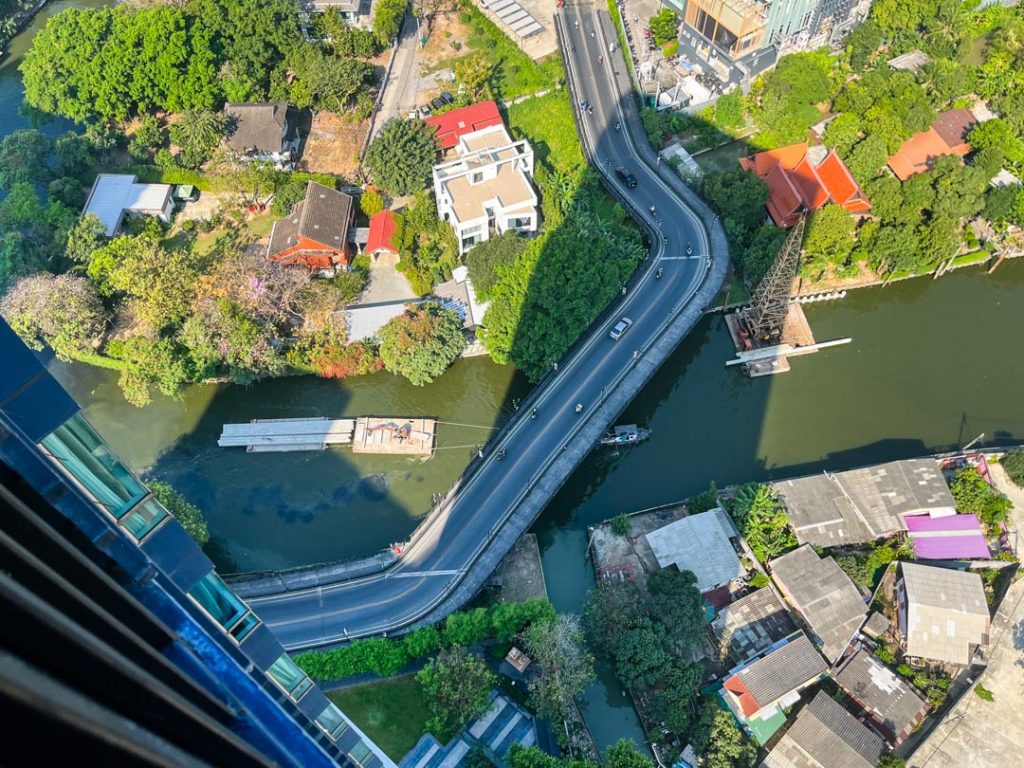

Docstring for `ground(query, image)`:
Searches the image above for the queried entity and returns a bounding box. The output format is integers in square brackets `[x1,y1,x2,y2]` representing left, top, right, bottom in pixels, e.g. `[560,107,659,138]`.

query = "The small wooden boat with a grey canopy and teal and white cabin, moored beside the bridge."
[600,422,650,443]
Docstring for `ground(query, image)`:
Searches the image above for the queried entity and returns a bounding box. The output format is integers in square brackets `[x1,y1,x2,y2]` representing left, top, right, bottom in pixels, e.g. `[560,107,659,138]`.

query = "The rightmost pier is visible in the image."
[743,356,789,380]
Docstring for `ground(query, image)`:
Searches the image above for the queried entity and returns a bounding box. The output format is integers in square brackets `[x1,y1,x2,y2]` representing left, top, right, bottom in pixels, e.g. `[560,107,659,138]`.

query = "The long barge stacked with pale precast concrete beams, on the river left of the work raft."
[217,418,355,454]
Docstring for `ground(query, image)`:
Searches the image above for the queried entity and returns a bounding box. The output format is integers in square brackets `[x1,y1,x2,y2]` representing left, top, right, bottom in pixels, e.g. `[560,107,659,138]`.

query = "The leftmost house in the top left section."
[84,174,174,243]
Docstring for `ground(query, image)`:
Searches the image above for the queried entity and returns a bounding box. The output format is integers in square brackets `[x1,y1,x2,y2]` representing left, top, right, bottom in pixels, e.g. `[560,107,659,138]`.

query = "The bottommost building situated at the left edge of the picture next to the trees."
[0,317,397,768]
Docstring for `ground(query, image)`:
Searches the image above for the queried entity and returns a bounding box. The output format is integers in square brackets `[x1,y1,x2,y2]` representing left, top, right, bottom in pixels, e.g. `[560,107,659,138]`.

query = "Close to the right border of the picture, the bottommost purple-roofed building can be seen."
[899,514,990,563]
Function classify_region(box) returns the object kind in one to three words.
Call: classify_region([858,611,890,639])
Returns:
shed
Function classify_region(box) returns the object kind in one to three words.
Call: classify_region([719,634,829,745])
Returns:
house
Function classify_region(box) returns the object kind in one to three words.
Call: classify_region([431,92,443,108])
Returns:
vehicle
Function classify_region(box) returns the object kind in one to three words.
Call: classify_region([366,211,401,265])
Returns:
building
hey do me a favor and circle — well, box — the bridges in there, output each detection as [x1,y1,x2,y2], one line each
[220,0,731,659]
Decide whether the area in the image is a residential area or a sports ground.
residential area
